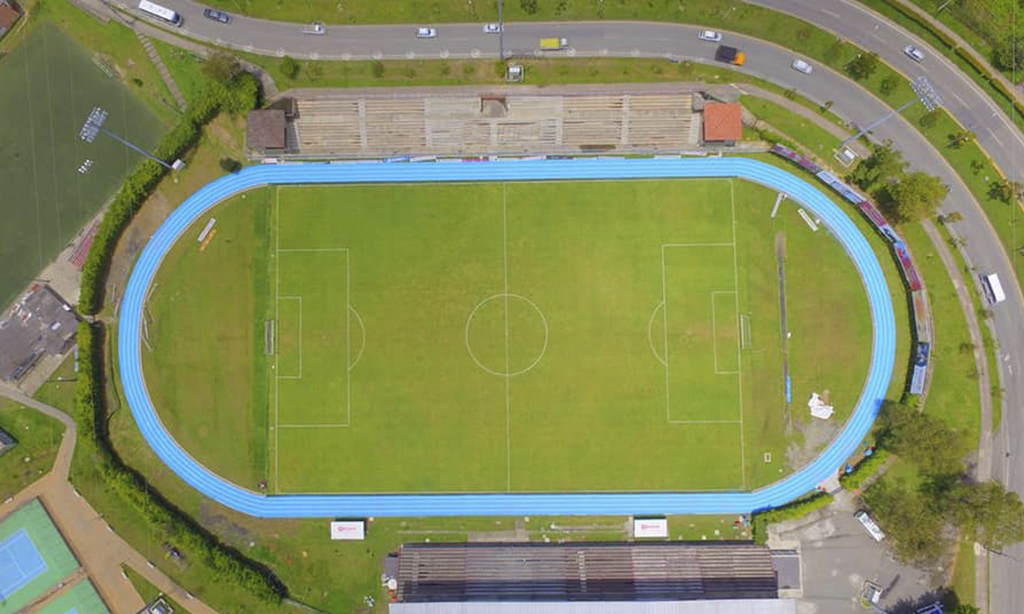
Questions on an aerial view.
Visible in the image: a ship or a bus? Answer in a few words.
bus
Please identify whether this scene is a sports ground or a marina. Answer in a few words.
sports ground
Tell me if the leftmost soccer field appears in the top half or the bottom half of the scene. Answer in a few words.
top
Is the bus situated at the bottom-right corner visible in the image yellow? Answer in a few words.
No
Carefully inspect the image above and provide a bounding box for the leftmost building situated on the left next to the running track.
[0,287,86,384]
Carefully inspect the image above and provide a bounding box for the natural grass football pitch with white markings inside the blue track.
[268,180,748,495]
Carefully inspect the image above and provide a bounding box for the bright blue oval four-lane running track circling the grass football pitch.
[119,157,896,518]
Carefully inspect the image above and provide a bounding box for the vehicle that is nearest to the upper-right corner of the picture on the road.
[904,46,924,61]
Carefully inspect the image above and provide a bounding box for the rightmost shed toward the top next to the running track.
[700,102,742,146]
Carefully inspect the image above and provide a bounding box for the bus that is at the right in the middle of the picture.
[977,273,1007,305]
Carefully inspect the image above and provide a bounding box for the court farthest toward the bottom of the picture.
[34,578,108,614]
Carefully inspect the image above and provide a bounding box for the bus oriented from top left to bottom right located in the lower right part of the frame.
[850,508,885,543]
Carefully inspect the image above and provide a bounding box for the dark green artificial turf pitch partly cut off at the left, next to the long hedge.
[0,20,167,310]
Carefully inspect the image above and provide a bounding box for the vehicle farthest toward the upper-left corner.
[138,0,186,27]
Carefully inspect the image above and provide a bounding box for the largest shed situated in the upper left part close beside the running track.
[247,109,290,153]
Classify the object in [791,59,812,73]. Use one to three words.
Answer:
car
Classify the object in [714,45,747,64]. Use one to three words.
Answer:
vehicle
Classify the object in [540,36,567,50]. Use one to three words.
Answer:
vehicle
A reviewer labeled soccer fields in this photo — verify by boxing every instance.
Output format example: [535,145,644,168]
[268,180,748,495]
[0,20,167,310]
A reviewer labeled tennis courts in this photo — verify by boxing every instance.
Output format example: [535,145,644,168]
[0,498,79,614]
[34,578,108,614]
